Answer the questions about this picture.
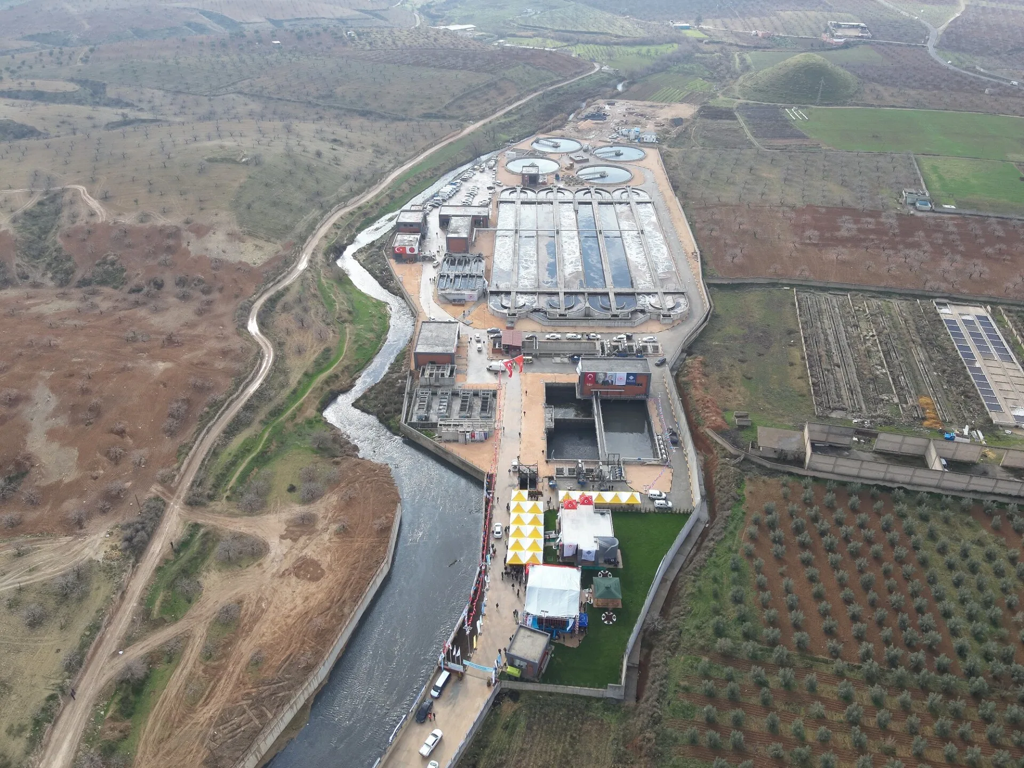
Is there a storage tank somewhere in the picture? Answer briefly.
Yes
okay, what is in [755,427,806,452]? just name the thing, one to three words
shed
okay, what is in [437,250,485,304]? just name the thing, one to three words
storage tank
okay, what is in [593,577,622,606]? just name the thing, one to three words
gazebo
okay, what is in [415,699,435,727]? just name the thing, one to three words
car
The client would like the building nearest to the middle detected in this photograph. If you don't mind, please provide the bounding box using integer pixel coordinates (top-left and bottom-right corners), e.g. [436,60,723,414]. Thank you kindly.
[501,330,526,357]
